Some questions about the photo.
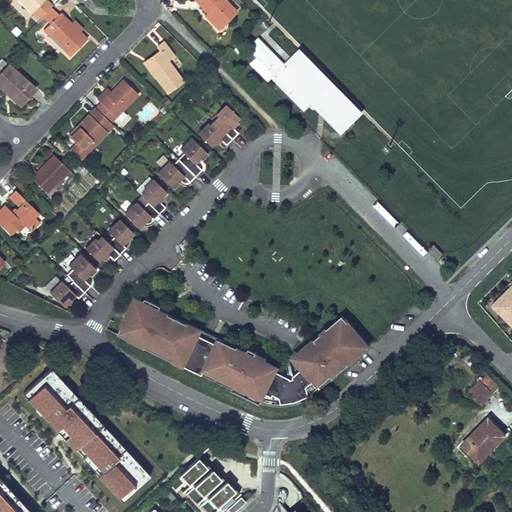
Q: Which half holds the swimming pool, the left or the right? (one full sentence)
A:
The swimming pool is on the left side of the image.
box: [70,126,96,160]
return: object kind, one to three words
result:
house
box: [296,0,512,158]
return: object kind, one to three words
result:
soccer field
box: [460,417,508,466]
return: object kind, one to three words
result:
house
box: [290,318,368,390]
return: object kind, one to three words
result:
building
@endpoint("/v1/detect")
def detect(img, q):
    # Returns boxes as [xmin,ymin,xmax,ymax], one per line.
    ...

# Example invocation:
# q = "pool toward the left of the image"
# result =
[136,102,160,124]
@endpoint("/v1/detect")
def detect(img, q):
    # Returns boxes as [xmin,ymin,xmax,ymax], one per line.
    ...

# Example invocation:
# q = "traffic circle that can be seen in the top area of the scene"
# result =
[254,144,300,193]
